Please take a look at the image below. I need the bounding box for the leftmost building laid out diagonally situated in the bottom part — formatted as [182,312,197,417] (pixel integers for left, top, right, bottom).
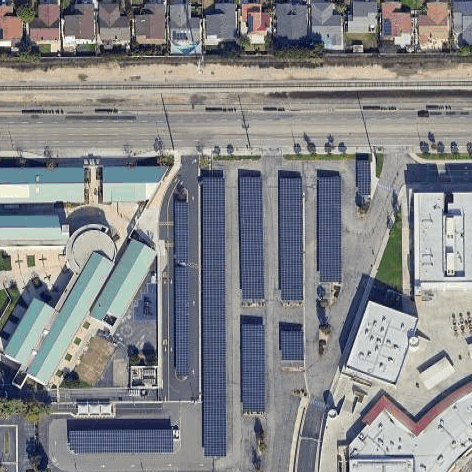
[3,298,55,366]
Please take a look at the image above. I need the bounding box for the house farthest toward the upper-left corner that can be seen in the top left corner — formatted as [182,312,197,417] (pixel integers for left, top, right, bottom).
[0,7,23,46]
